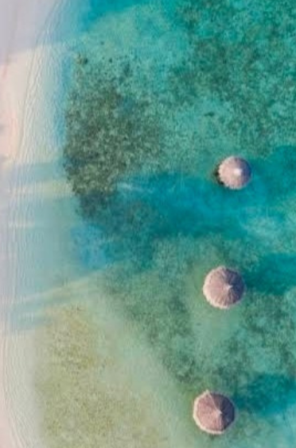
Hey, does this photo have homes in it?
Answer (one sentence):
No, I can't see a single home in this photo.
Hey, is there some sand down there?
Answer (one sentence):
Yes, there's sand in this view.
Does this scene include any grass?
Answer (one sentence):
No, no grass is visible.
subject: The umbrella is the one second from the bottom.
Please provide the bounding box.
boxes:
[203,266,244,307]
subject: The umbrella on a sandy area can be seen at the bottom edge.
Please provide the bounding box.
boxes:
[191,391,233,432]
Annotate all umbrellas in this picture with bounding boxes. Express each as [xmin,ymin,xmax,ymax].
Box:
[191,391,233,432]
[214,155,249,190]
[203,266,244,307]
